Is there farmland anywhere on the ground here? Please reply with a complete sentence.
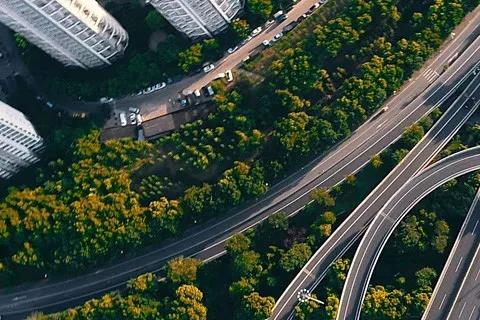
No, the picture contains no farmland.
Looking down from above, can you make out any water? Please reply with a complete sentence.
No, the picture contains no water.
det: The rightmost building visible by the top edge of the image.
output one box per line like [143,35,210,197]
[146,0,246,42]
